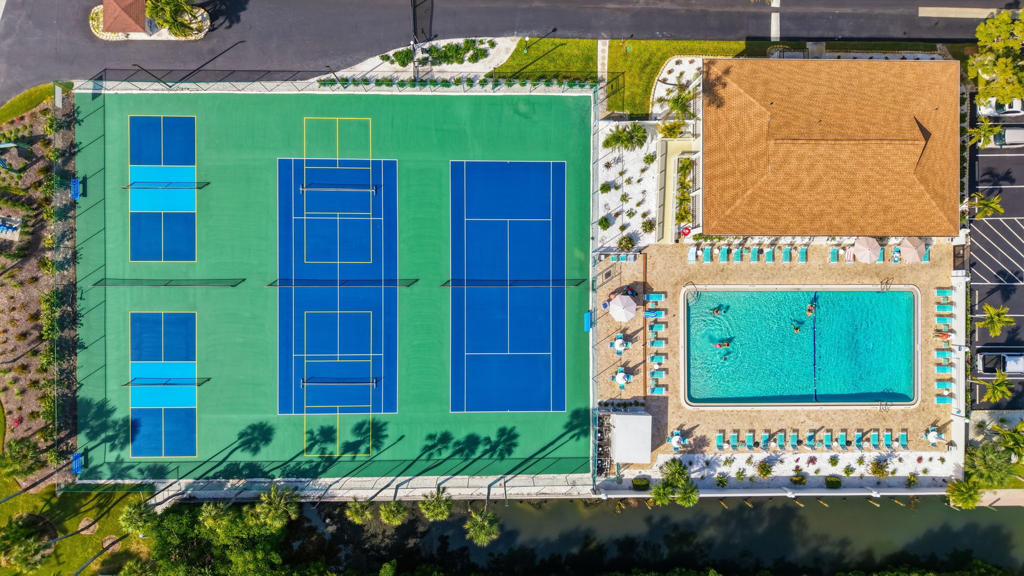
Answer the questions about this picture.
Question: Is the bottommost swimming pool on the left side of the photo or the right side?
right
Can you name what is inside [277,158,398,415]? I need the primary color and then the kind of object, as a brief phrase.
blue tennis court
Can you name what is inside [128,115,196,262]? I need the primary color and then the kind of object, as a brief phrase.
blue sports court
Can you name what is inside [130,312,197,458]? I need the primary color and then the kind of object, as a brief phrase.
blue sports court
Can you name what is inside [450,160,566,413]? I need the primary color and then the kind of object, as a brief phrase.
blue tennis court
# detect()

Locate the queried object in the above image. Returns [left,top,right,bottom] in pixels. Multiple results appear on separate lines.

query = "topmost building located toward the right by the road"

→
[690,58,961,237]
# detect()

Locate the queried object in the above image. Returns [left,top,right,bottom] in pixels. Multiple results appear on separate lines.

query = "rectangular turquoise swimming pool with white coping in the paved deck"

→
[680,282,921,414]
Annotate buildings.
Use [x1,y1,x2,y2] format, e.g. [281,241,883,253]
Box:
[601,410,651,463]
[690,58,961,237]
[103,0,153,34]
